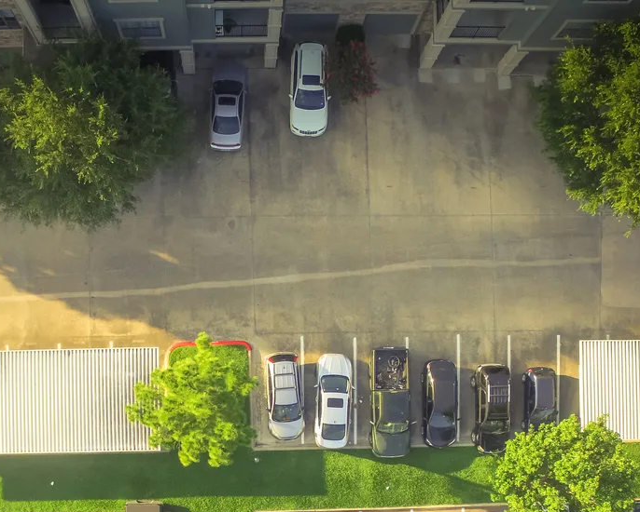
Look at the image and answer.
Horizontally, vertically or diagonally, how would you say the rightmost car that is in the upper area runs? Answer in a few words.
vertically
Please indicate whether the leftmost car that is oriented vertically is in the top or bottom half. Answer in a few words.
top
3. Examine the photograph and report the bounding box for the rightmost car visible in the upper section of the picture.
[288,42,332,139]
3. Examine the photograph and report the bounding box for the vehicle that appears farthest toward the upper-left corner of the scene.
[207,62,248,154]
